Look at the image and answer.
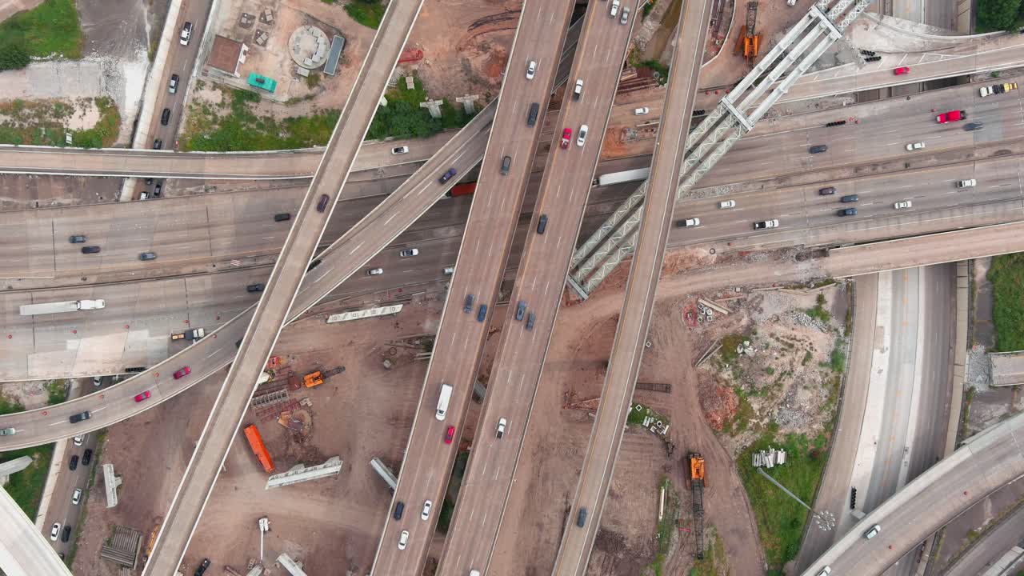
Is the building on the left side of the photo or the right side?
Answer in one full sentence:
The building appears in the left half of the scene.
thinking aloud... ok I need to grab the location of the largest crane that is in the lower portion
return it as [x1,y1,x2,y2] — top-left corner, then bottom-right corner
[686,449,705,559]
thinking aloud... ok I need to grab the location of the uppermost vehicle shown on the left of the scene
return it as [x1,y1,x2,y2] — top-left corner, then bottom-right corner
[178,20,191,43]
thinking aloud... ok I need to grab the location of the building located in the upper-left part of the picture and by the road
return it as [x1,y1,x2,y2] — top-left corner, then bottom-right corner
[207,35,252,79]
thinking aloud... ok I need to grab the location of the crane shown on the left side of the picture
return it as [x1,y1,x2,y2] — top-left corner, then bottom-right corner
[300,368,348,390]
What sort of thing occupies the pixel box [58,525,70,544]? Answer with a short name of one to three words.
vehicle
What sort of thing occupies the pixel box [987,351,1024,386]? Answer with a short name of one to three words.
bridge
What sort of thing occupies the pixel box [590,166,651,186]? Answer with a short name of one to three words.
vehicle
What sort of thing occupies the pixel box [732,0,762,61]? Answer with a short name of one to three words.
crane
